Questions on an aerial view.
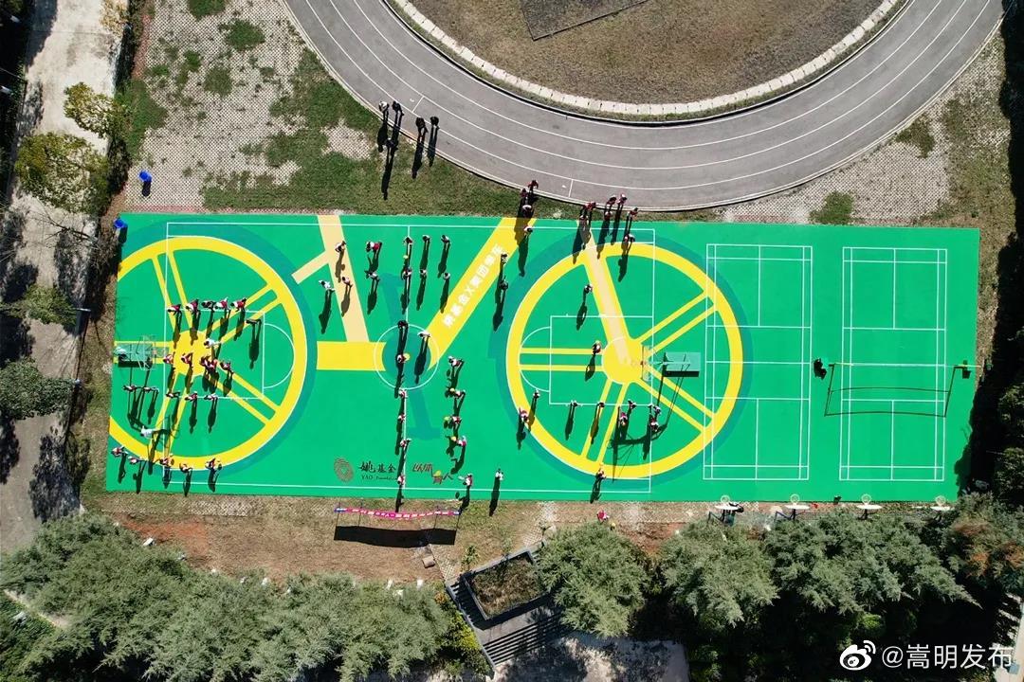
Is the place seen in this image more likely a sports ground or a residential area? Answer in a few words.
sports ground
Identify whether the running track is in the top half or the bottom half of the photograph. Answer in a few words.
top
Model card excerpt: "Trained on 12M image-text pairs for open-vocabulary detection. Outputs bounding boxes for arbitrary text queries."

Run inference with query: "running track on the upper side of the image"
[275,0,1015,214]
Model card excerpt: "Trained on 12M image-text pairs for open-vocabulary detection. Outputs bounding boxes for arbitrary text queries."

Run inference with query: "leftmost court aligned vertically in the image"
[703,243,814,481]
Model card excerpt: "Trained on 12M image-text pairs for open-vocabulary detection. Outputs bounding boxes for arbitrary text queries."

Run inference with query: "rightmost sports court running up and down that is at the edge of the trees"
[840,247,948,481]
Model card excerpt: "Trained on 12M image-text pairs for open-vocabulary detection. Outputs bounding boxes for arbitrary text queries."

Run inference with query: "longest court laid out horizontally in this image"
[106,214,979,501]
